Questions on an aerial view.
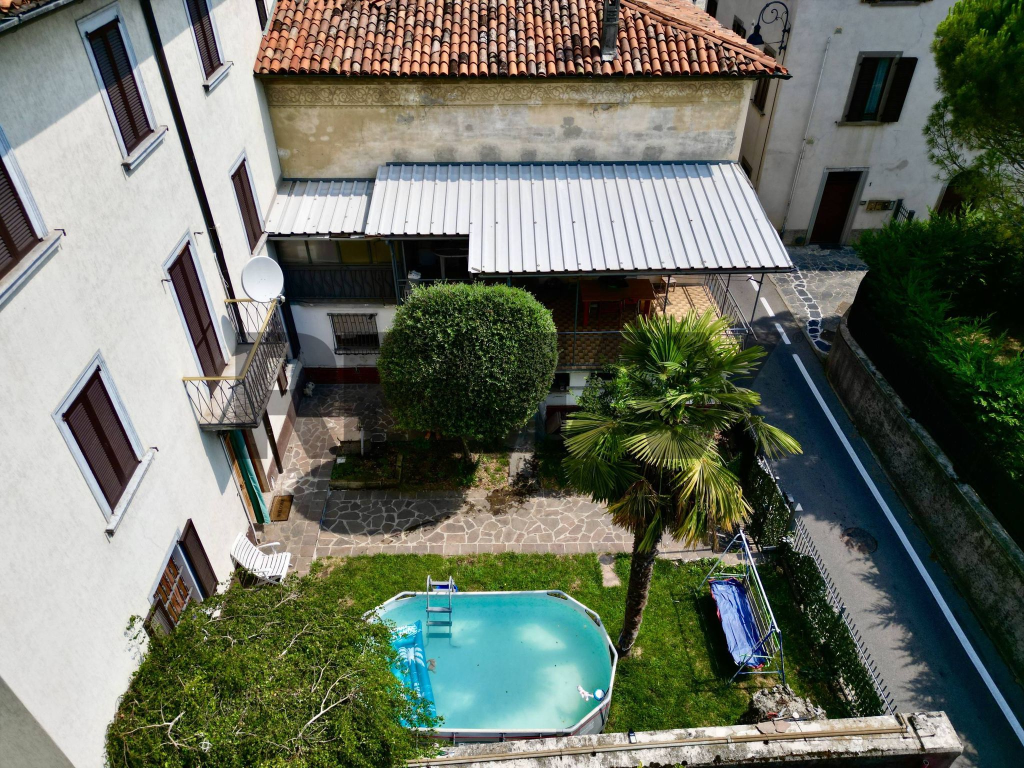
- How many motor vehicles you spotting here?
none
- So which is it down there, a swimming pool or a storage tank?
swimming pool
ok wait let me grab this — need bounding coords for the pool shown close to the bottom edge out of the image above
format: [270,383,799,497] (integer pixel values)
[360,590,620,752]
